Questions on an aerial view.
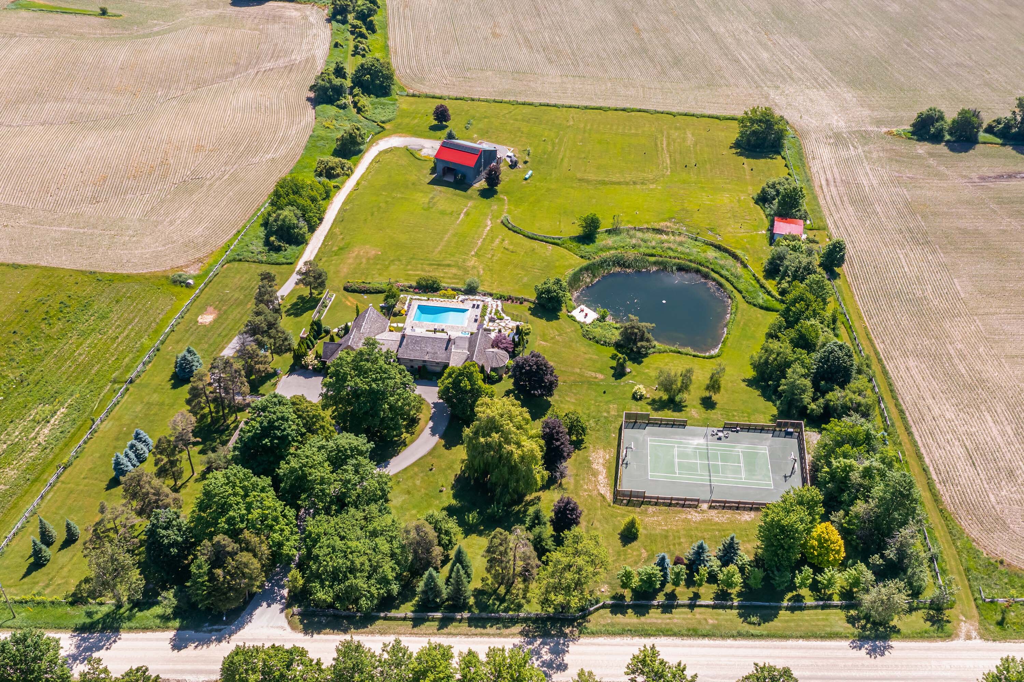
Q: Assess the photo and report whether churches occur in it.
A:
No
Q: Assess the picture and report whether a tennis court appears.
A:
Yes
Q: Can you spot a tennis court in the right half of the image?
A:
Yes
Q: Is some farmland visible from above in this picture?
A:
Yes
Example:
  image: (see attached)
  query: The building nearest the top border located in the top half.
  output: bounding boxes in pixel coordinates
[433,139,494,183]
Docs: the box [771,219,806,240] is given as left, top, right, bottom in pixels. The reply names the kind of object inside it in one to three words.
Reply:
shed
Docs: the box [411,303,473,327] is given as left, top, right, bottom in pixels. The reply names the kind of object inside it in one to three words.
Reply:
swimming pool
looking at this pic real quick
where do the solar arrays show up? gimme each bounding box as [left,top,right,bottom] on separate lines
[441,139,481,156]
